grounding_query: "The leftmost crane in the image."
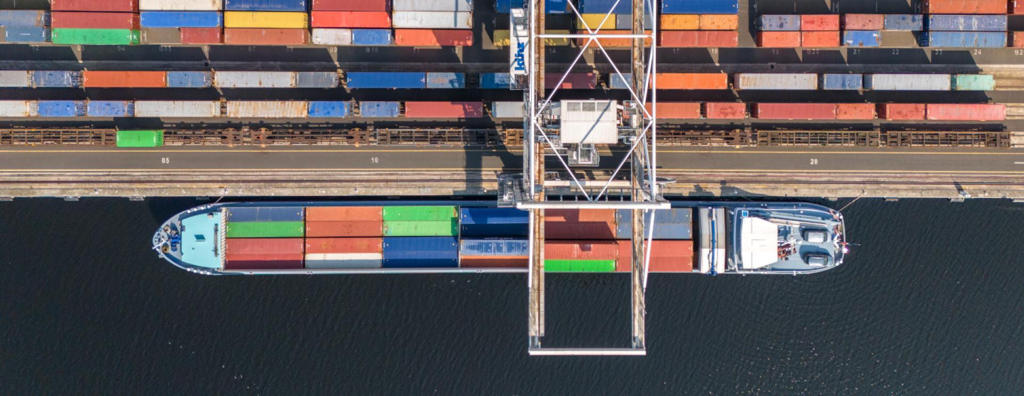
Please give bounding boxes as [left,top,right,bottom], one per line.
[497,0,675,355]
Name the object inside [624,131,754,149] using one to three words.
rail car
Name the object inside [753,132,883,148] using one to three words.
rail car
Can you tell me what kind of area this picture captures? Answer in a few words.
port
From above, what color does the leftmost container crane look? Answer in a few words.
white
